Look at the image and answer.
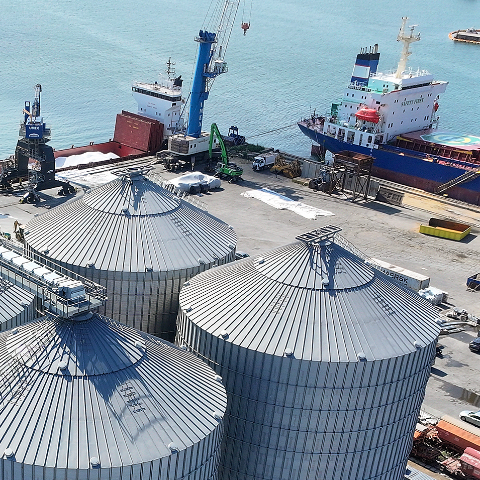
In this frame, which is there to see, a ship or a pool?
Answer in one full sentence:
Of the two, only a ship appears.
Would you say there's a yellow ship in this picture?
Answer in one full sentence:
No, there is no yellow ship in the image.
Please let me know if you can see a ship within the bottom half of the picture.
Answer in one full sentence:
No, I see no ship within the bottom half of the picture.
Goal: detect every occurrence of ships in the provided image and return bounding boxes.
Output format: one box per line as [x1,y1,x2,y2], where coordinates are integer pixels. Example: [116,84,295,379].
[53,61,206,175]
[296,3,480,199]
